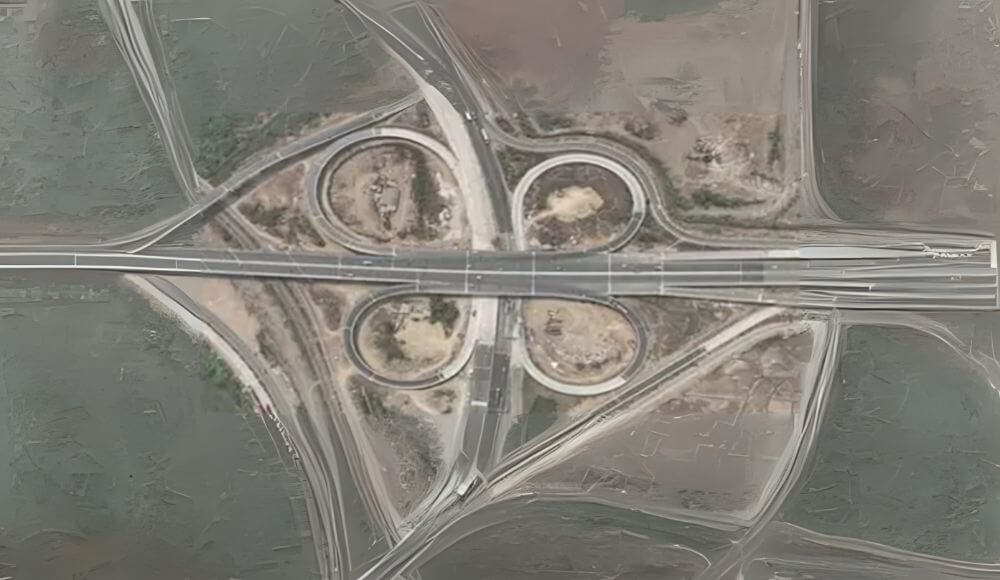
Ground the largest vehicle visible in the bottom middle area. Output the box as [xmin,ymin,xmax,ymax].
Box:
[457,476,479,496]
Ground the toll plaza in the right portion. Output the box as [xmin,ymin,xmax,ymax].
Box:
[800,240,998,308]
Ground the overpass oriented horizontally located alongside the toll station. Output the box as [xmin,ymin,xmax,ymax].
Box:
[0,246,803,296]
